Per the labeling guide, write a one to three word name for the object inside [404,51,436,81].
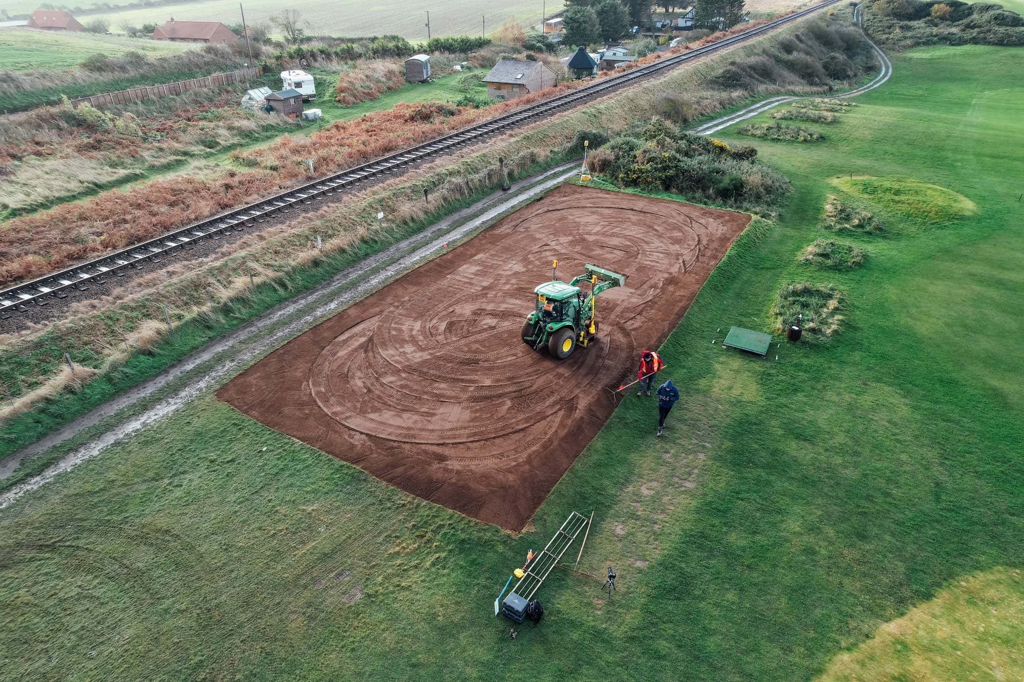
shed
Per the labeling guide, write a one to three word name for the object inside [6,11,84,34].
house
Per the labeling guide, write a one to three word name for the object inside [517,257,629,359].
work vehicle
